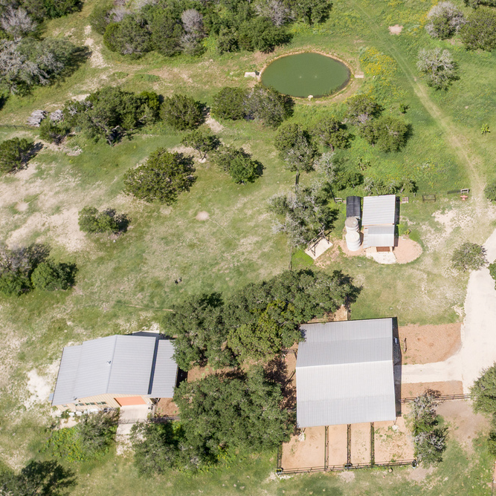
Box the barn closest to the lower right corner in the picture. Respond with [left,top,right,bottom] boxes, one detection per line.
[298,318,398,432]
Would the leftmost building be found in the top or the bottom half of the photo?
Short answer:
bottom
